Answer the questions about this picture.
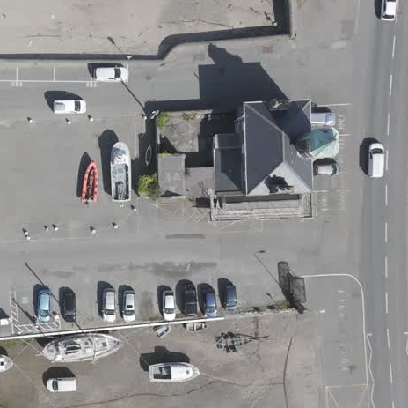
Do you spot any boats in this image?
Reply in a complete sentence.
Yes, the frame does contain a boat.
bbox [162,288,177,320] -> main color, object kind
white car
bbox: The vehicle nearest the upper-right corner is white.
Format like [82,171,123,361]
[379,0,395,21]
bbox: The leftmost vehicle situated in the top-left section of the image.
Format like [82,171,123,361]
[53,99,87,114]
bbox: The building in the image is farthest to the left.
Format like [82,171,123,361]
[158,155,186,196]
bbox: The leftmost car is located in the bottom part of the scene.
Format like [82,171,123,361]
[37,288,51,321]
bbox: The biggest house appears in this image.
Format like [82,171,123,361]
[210,98,315,222]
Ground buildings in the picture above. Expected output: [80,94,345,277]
[210,98,315,222]
[158,155,186,196]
